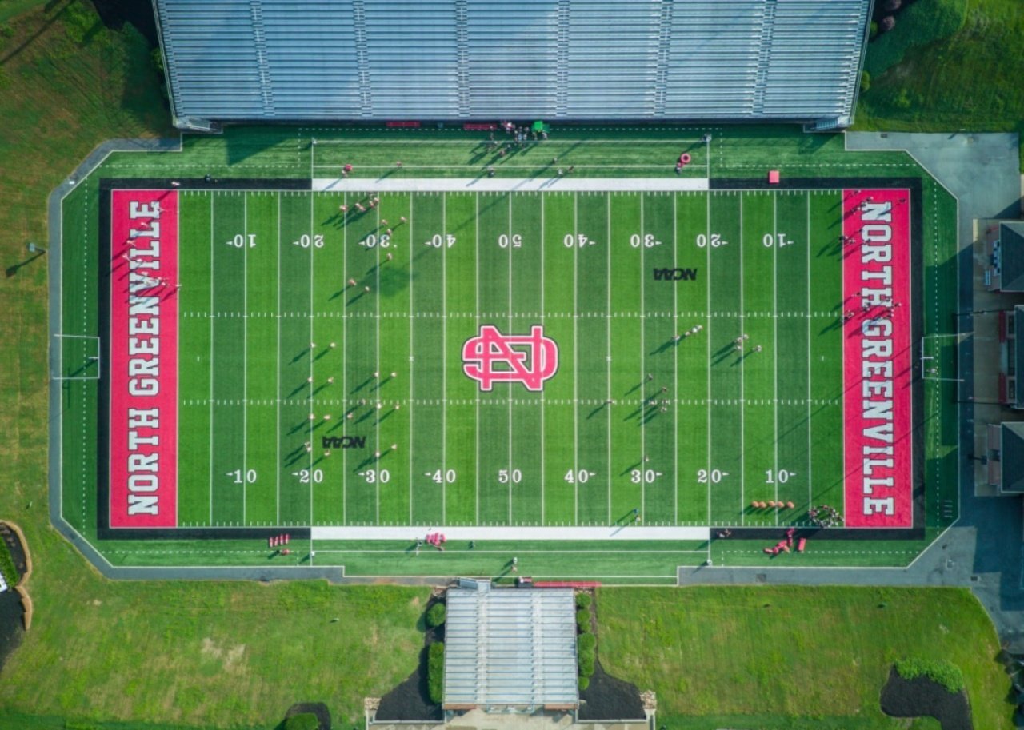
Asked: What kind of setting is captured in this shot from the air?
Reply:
sports ground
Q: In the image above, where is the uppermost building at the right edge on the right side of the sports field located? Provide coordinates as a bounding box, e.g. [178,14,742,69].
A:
[987,221,1024,290]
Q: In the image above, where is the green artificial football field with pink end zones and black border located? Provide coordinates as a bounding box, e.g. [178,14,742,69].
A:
[62,126,958,588]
